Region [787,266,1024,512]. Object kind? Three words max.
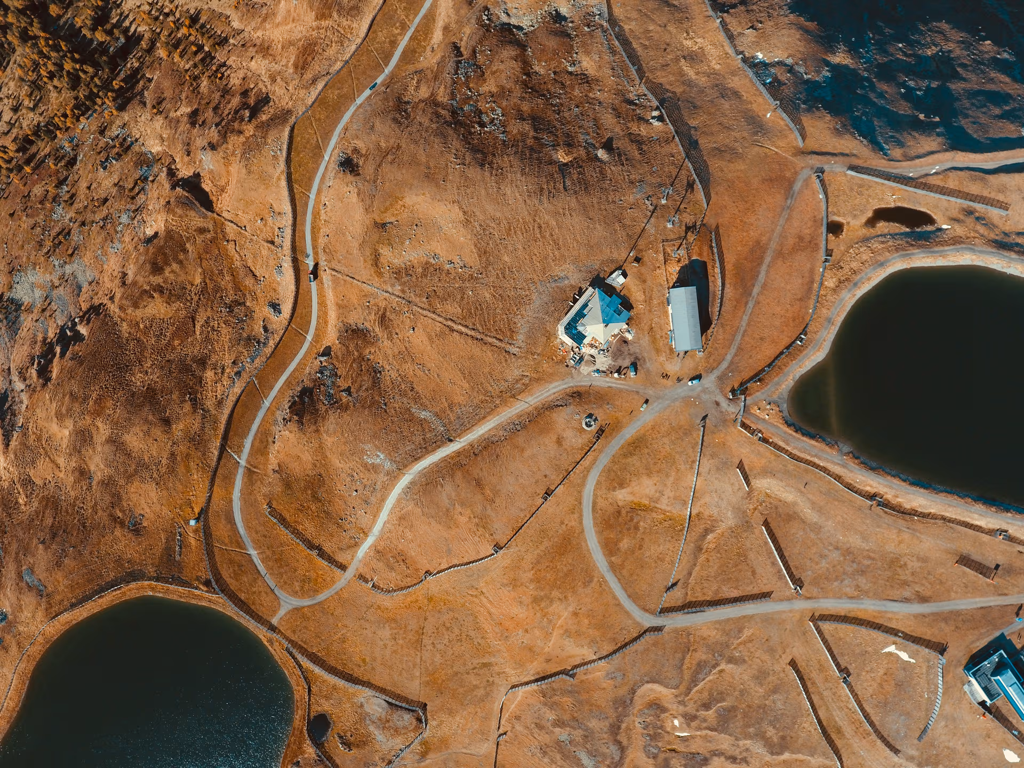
pond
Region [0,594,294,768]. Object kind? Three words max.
pond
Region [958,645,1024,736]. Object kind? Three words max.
building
